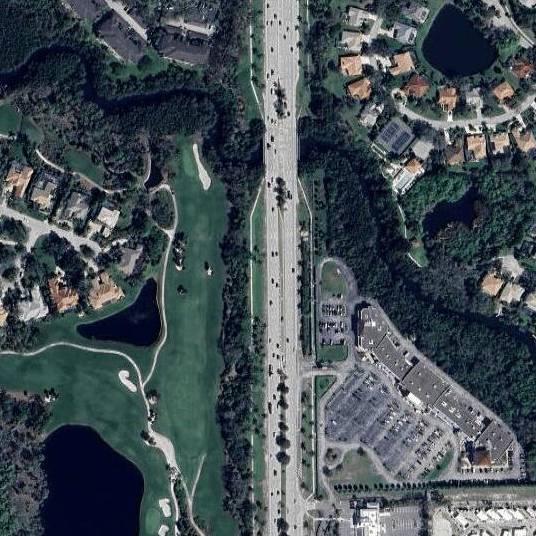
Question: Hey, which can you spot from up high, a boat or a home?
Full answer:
It is a home that can be seen here.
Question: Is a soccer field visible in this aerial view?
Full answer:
No, there appears to be no soccer field in this shot.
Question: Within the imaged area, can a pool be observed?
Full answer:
Yes, looking at the shot, I can spot a pool.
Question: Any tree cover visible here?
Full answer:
Yes, there's tree cover in this view.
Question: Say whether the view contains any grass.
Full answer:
Yes, there is grass in the image.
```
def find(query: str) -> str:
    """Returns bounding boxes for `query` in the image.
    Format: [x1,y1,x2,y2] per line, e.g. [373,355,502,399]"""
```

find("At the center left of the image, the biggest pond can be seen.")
[77,276,162,347]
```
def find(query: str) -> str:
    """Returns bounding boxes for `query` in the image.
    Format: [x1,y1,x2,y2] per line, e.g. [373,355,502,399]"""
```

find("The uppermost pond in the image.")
[423,3,500,78]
